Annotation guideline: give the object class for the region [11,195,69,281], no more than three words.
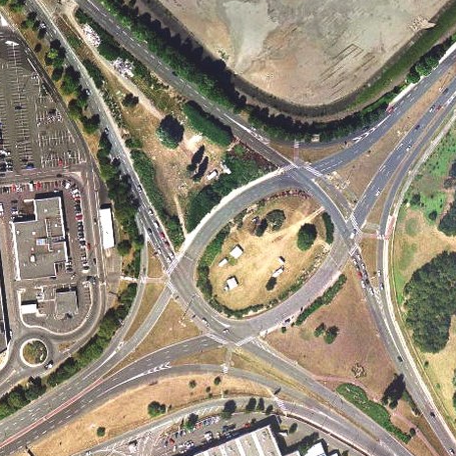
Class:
building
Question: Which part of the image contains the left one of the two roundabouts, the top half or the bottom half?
bottom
